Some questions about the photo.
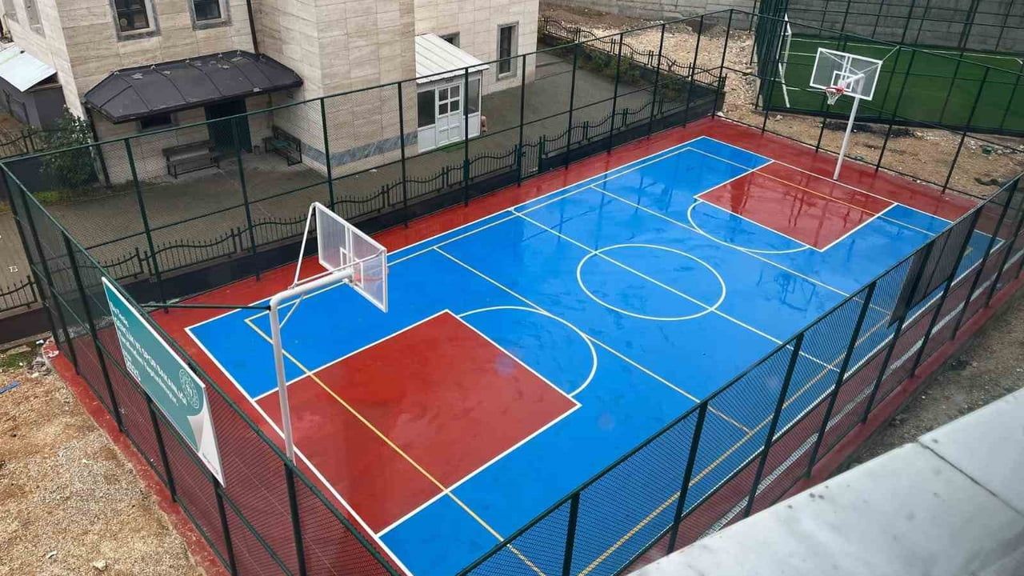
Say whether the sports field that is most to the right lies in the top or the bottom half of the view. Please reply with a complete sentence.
It is in the top half that the sports field that is most to the right appears.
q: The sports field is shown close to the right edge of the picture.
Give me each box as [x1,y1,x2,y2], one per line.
[754,32,1024,123]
